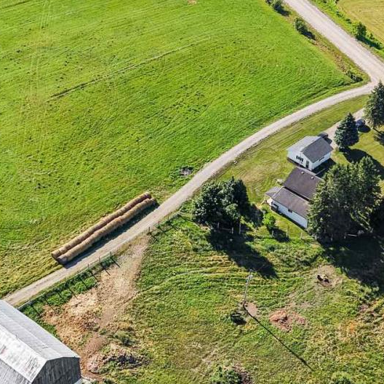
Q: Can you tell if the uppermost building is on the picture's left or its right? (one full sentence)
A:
It is on the right.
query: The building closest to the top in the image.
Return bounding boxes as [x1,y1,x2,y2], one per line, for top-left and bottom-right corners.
[286,135,331,170]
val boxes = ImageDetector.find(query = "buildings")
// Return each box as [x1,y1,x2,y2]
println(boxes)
[260,169,345,229]
[286,135,331,170]
[0,299,84,384]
